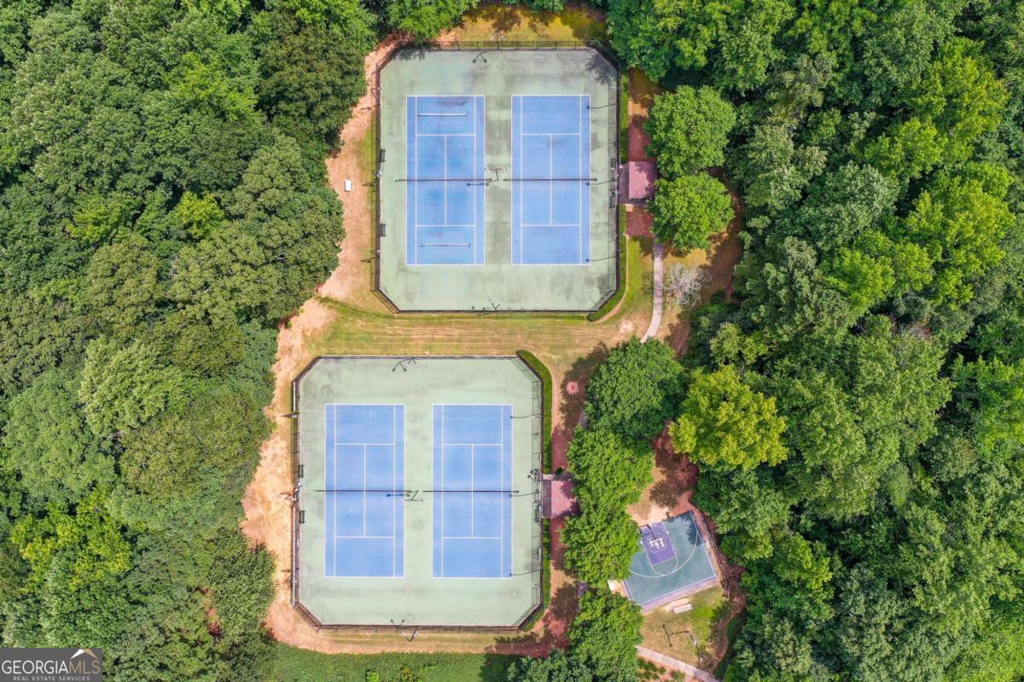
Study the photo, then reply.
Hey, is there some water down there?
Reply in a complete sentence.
No, no water is visible.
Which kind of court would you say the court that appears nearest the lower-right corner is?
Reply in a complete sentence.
The court that appears nearest the lower-right corner can be classified as a basketball court.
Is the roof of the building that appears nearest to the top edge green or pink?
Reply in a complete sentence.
The color of the roof of the building that appears nearest to the top edge is pink.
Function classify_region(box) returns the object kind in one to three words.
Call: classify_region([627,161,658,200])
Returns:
building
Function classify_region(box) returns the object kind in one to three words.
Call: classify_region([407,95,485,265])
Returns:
tennis court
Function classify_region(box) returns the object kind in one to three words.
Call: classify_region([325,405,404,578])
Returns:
tennis court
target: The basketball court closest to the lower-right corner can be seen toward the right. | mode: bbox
[609,507,721,612]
